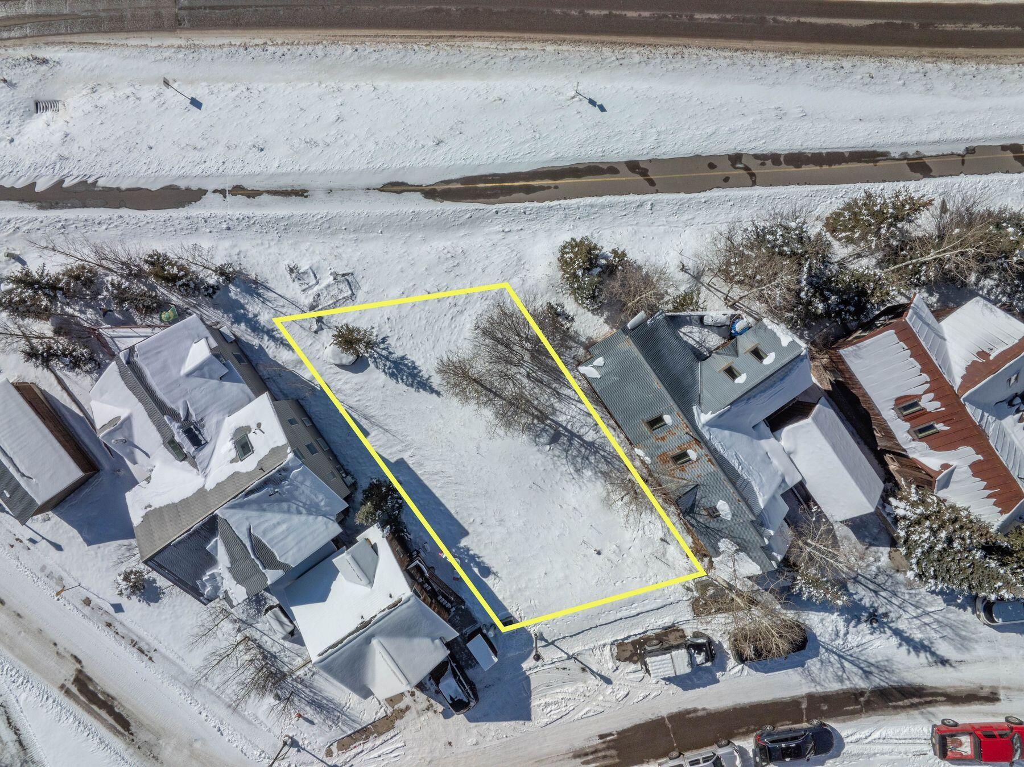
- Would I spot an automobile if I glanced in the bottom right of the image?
Yes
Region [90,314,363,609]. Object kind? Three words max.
house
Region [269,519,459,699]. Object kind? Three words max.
house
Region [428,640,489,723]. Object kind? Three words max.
car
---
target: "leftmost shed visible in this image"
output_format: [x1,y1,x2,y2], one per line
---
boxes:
[0,378,103,526]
